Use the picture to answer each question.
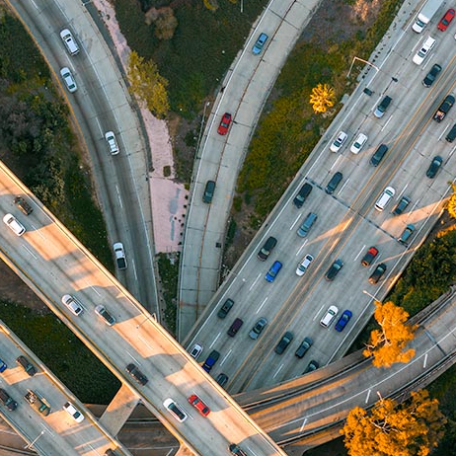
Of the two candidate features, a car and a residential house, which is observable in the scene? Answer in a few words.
car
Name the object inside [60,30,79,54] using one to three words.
car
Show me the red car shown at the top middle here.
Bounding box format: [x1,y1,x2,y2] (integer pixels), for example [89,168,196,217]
[218,111,233,135]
